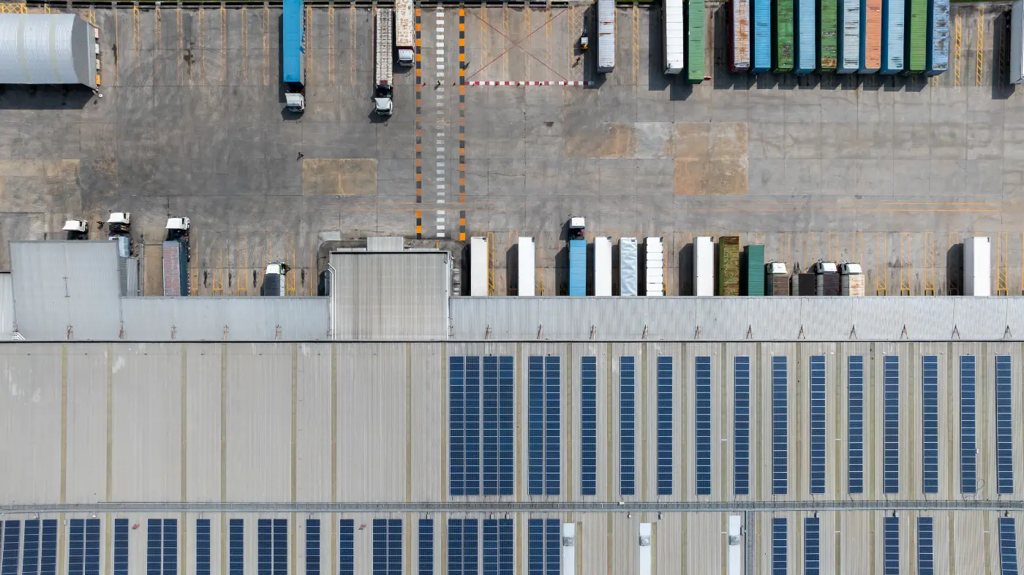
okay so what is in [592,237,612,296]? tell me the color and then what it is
white trailer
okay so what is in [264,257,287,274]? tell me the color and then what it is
white vehicle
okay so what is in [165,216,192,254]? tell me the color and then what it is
white truck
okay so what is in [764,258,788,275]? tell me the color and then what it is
white vehicle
